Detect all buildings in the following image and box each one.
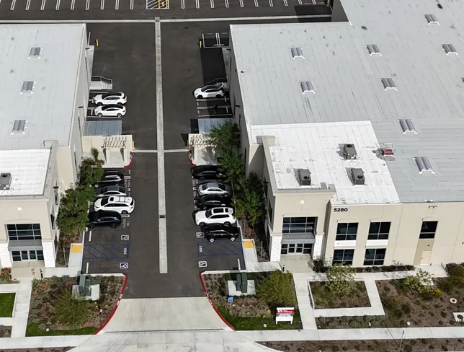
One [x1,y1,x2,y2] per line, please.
[0,24,91,267]
[223,0,464,266]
